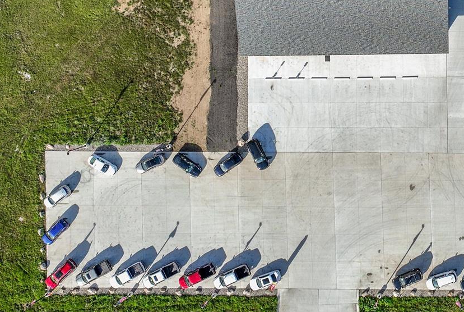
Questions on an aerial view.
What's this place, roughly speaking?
parking lot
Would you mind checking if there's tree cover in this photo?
No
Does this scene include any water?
No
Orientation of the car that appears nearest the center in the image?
at an angle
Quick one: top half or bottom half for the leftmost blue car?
bottom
